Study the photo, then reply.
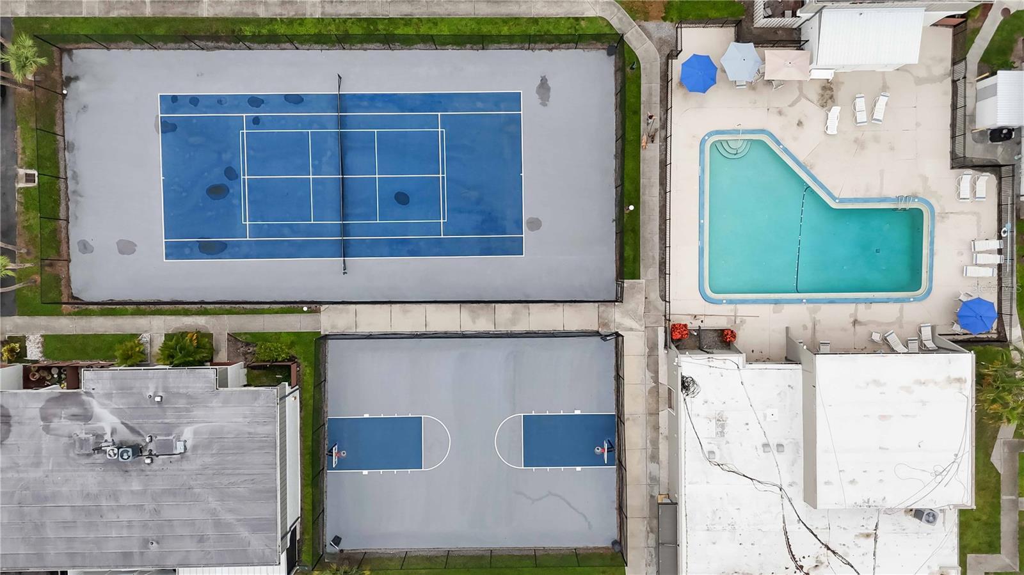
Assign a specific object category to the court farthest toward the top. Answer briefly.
tennis court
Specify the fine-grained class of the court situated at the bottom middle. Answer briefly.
basketball court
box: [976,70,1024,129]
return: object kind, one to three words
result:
shed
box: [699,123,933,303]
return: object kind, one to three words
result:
swimming pool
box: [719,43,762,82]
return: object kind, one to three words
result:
umbrella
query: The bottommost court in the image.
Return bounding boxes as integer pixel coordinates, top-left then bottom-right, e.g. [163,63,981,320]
[325,338,619,562]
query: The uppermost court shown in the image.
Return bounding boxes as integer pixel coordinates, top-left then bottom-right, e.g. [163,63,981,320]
[62,50,619,299]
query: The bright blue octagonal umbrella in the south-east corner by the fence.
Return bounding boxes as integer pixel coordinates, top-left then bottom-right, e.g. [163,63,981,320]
[954,295,994,335]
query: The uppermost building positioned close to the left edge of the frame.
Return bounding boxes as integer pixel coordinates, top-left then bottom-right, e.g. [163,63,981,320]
[0,359,306,571]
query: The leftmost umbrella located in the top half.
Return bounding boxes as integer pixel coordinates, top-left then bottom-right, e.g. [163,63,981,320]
[679,56,717,94]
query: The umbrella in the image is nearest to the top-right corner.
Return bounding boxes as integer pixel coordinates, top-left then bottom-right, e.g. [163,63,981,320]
[763,51,808,81]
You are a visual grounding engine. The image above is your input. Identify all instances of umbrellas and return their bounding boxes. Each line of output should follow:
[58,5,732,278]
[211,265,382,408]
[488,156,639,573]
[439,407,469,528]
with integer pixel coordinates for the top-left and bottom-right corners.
[763,51,808,81]
[679,56,717,94]
[719,43,762,82]
[954,295,994,335]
